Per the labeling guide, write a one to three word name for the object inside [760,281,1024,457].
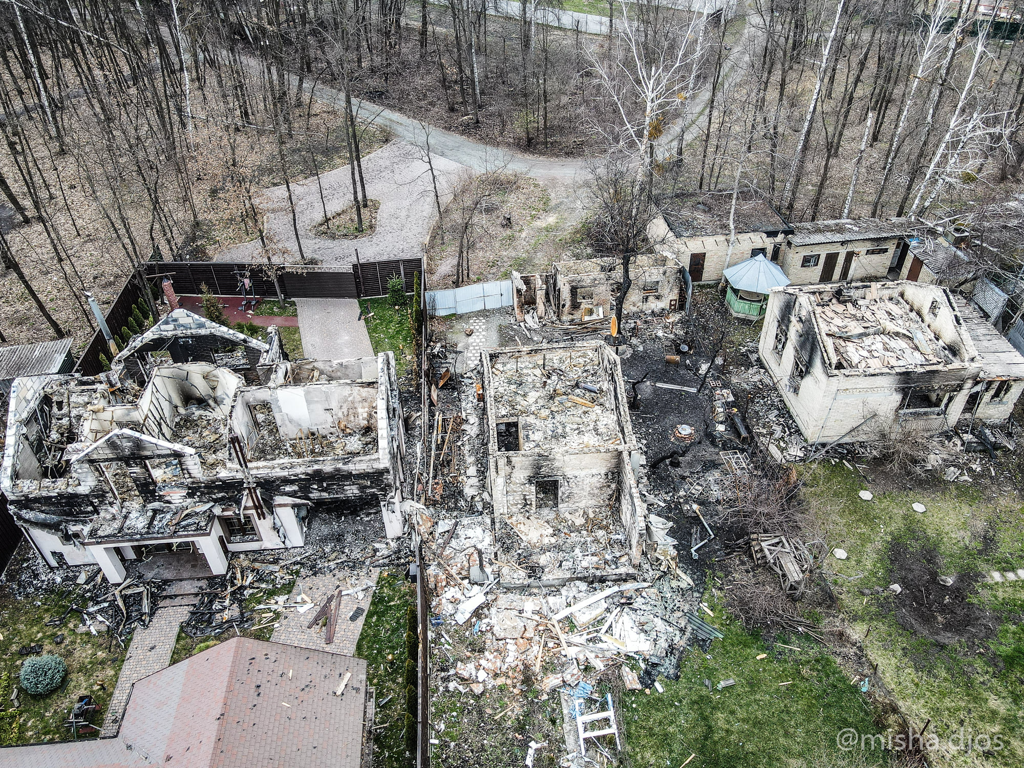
house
